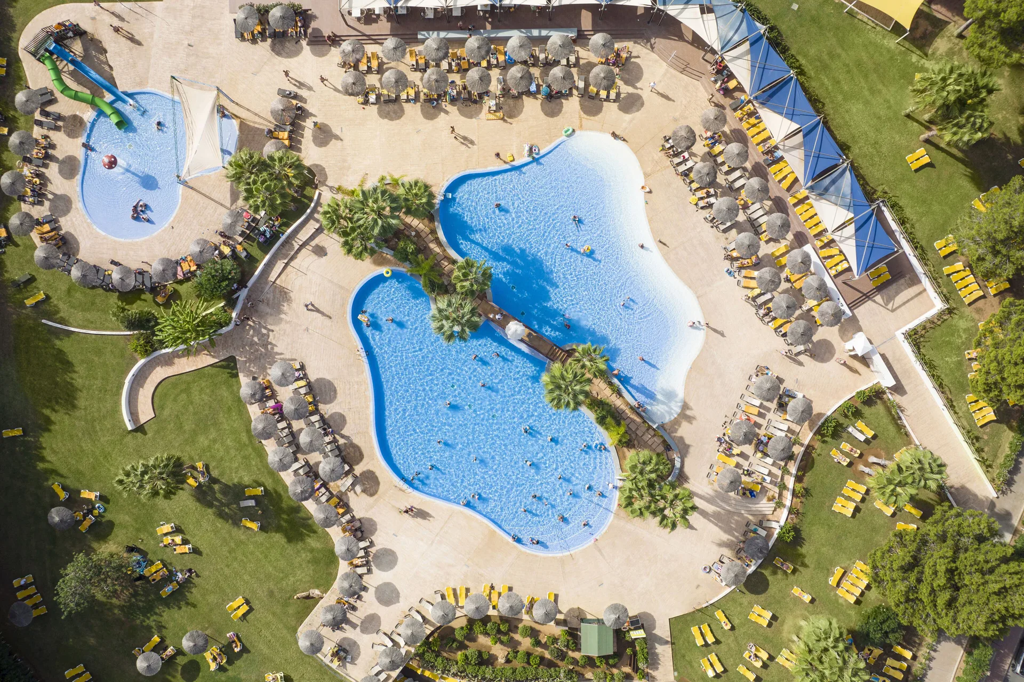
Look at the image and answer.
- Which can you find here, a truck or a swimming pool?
swimming pool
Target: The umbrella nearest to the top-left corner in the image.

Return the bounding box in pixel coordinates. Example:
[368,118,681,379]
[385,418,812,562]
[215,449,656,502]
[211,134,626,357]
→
[17,89,46,116]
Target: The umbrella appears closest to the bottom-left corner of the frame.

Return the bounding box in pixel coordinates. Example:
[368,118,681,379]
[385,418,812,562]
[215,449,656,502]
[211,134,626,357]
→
[9,599,38,626]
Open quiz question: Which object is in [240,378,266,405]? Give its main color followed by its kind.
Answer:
gray umbrella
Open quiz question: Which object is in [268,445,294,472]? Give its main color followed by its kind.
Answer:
gray umbrella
